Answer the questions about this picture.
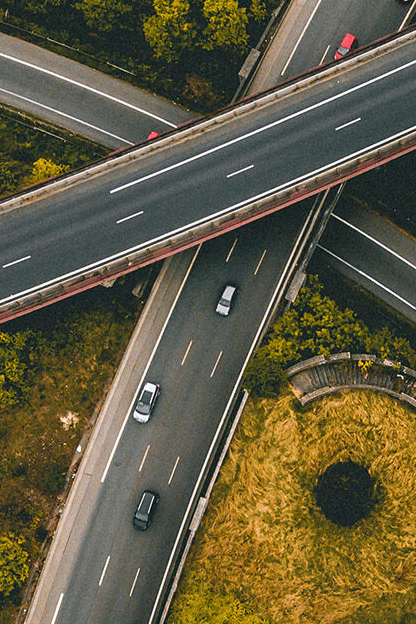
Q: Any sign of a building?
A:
No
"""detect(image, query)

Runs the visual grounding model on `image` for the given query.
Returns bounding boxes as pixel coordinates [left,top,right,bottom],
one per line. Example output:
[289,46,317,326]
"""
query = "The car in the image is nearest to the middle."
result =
[215,283,239,317]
